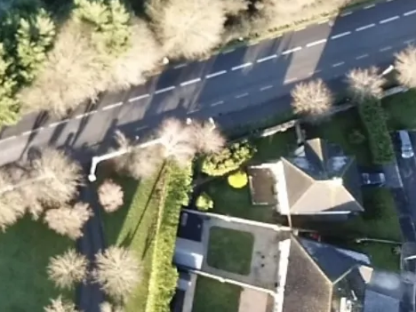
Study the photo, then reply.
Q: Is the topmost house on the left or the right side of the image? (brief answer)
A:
right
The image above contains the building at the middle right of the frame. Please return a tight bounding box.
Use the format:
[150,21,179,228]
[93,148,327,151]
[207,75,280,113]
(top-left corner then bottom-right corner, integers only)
[271,141,364,218]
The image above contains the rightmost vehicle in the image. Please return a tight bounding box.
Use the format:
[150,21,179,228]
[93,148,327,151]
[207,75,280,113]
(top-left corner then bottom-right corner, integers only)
[397,128,416,160]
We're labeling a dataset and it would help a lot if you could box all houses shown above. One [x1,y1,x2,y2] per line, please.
[275,238,376,312]
[271,141,364,218]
